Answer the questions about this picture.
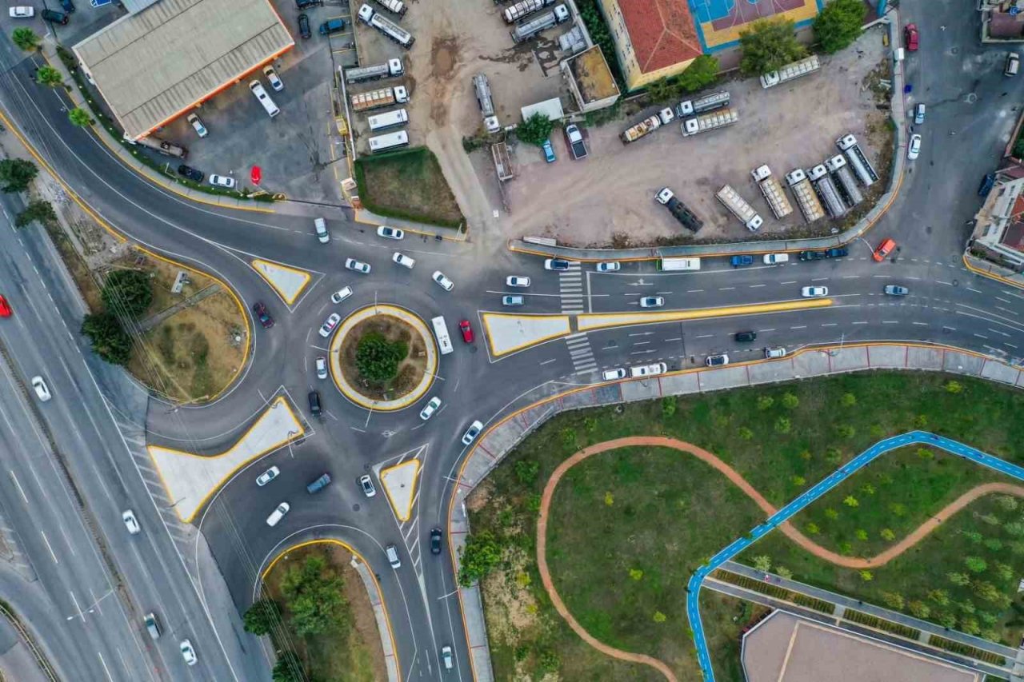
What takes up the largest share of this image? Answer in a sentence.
Most of the picture is covered by paved ground.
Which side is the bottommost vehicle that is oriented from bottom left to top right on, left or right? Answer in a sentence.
The bottommost vehicle that is oriented from bottom left to top right is on the left side of the image.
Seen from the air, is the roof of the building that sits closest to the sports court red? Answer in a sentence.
Yes, red is the color of the roof of the building that sits closest to the sports court.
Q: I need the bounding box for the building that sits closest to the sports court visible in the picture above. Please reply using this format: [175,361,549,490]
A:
[606,0,702,90]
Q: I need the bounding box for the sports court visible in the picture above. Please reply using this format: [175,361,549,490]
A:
[687,0,821,53]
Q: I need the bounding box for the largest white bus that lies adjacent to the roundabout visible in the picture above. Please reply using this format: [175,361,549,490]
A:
[431,316,456,356]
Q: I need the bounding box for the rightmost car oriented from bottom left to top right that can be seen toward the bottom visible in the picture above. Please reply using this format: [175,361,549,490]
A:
[459,419,484,447]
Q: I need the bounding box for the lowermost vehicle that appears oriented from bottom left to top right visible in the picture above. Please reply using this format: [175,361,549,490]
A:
[263,501,291,528]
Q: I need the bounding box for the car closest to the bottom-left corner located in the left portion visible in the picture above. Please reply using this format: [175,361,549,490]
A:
[142,612,165,642]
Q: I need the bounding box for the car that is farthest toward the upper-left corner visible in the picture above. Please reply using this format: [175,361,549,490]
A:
[10,5,36,19]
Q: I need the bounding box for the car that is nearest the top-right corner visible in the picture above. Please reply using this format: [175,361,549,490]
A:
[1002,52,1021,78]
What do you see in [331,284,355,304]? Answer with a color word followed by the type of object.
white car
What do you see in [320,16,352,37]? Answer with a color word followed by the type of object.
blue truck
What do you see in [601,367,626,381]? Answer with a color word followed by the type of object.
white vehicle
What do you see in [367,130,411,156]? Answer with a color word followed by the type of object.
white bus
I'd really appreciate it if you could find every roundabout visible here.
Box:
[328,302,438,412]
